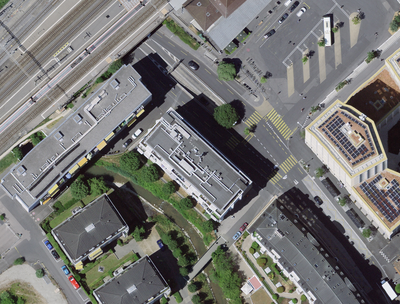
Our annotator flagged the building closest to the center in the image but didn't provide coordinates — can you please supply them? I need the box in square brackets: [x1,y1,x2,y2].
[143,107,252,219]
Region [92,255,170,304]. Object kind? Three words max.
house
